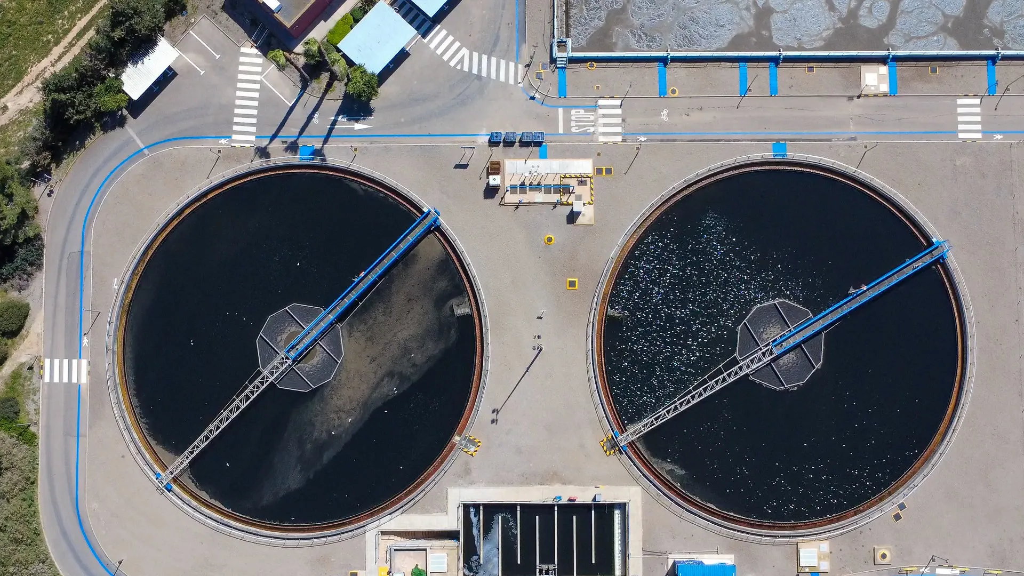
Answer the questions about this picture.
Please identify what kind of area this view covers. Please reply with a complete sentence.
It's an industrial area.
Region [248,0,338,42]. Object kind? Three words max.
building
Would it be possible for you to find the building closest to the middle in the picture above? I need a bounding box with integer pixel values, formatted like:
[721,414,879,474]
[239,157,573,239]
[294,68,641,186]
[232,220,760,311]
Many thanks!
[504,159,594,225]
